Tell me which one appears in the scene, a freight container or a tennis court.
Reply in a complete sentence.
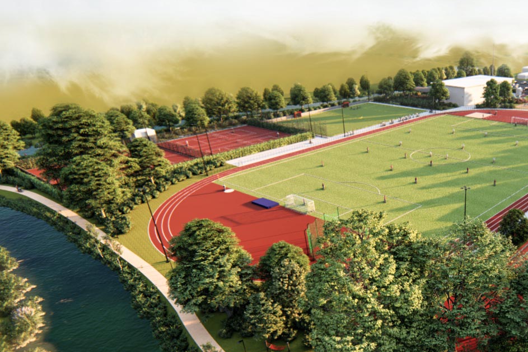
The image shows a tennis court.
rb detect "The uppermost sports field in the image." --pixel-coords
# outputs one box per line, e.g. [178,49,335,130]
[279,102,428,138]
